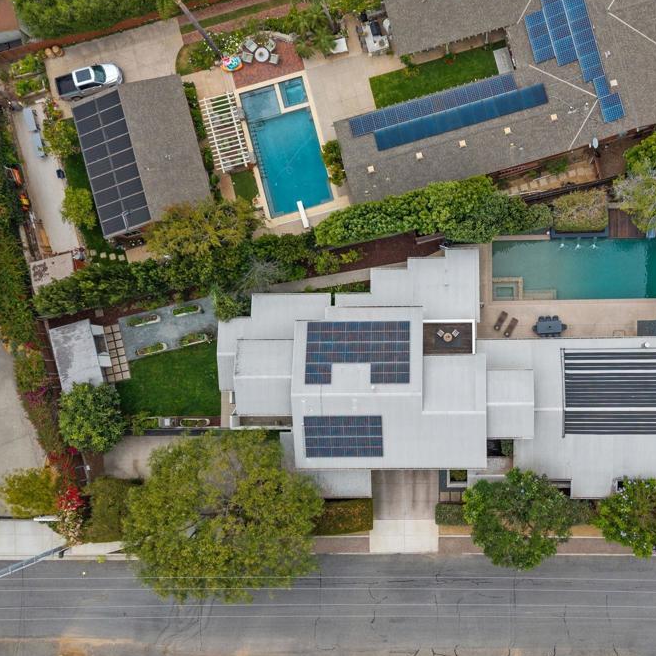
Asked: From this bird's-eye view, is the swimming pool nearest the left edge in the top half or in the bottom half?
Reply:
top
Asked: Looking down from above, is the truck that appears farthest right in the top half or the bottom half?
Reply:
top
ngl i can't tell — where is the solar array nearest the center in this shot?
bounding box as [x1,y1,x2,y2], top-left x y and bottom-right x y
[305,322,410,384]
